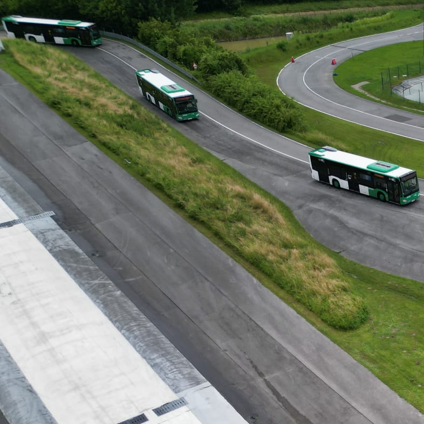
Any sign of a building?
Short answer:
No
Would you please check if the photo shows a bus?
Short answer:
Yes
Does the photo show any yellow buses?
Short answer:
No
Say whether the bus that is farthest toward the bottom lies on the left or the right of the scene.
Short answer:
right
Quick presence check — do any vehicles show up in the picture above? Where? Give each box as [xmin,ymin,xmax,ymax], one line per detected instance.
[138,70,200,120]
[308,142,424,206]
[5,21,100,47]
